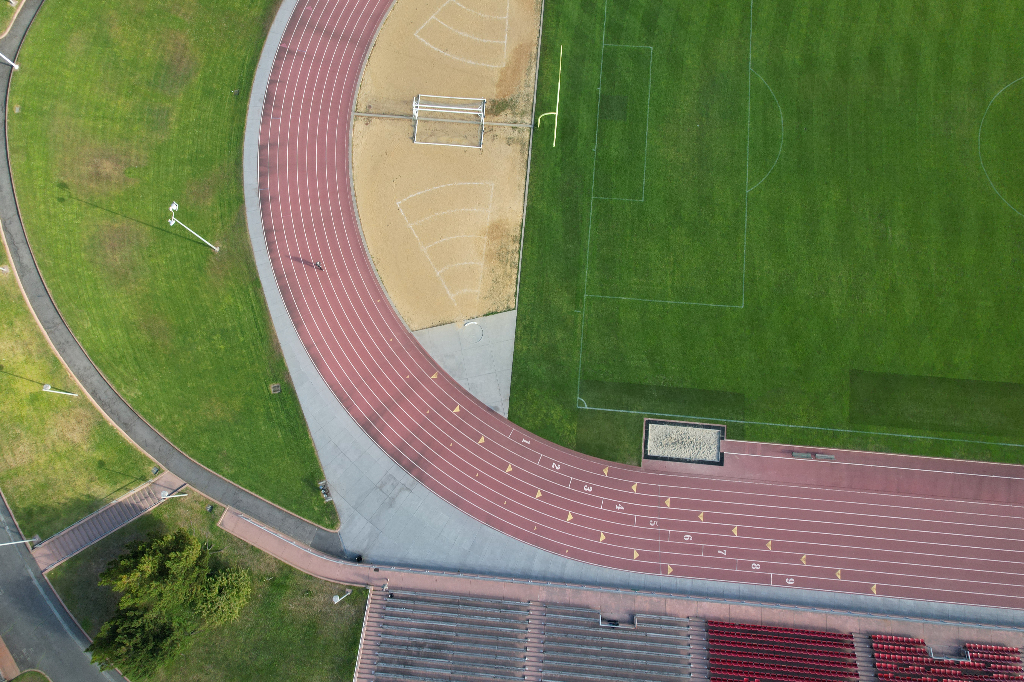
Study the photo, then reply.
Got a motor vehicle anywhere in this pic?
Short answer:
No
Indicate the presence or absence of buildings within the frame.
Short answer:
No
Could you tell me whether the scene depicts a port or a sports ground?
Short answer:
sports ground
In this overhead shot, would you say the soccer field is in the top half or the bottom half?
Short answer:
top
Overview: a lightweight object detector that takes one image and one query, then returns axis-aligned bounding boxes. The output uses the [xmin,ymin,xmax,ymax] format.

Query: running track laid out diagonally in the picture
[258,0,1024,609]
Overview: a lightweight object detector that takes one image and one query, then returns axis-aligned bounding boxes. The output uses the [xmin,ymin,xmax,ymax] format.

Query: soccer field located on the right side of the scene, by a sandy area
[508,0,1024,465]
